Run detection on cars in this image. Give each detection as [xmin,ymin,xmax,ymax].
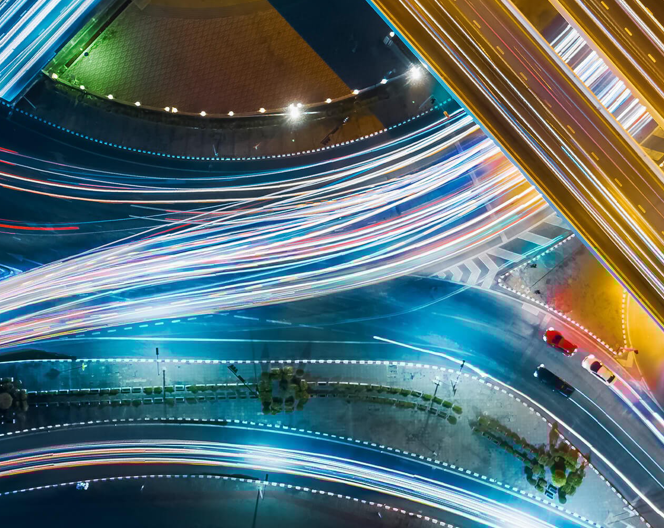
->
[545,327,580,356]
[537,364,575,397]
[584,354,619,384]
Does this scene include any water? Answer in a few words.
No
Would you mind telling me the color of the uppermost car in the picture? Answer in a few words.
red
